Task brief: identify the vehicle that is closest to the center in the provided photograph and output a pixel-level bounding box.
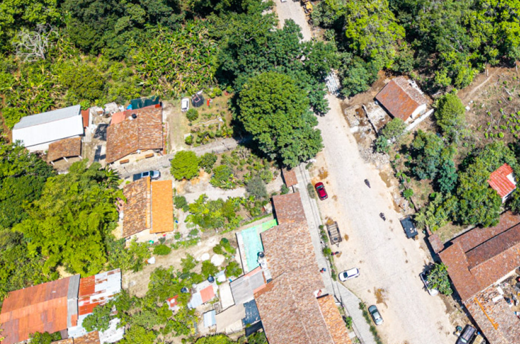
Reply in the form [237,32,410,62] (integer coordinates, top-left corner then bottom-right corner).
[314,181,327,199]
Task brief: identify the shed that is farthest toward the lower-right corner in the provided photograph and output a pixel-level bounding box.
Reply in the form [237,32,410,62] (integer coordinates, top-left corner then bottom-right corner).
[464,288,520,344]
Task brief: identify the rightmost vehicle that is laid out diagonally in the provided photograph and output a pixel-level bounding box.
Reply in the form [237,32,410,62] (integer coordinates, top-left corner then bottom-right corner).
[456,323,476,344]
